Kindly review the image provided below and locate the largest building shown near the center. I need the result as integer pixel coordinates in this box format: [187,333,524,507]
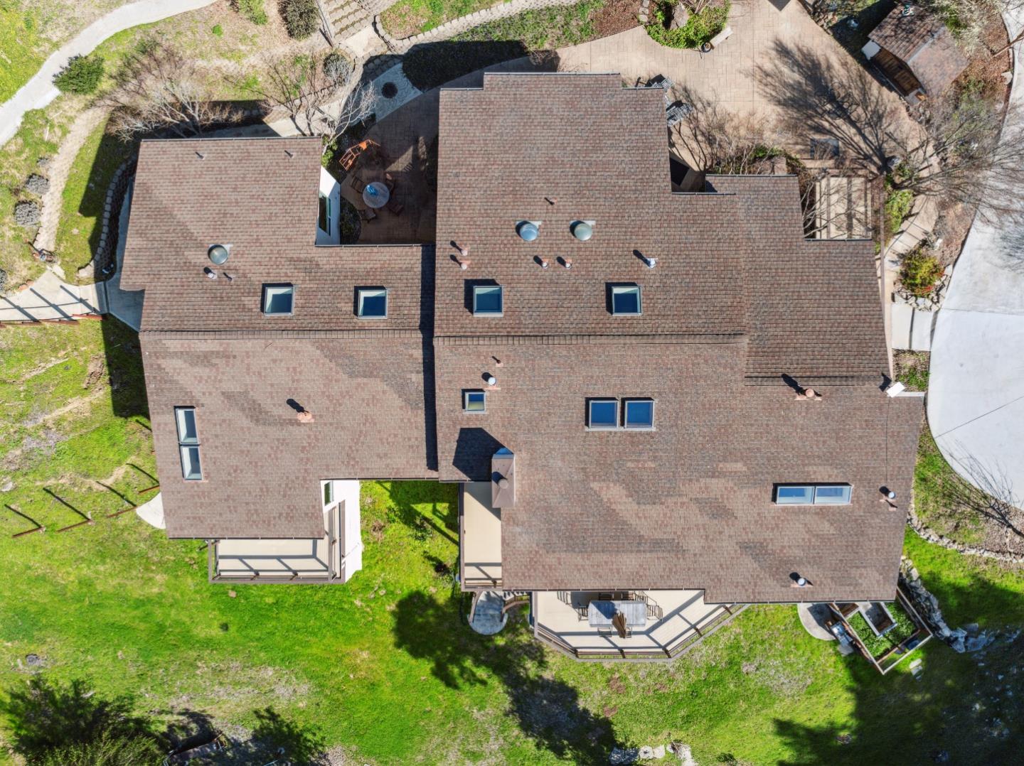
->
[119,69,927,607]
